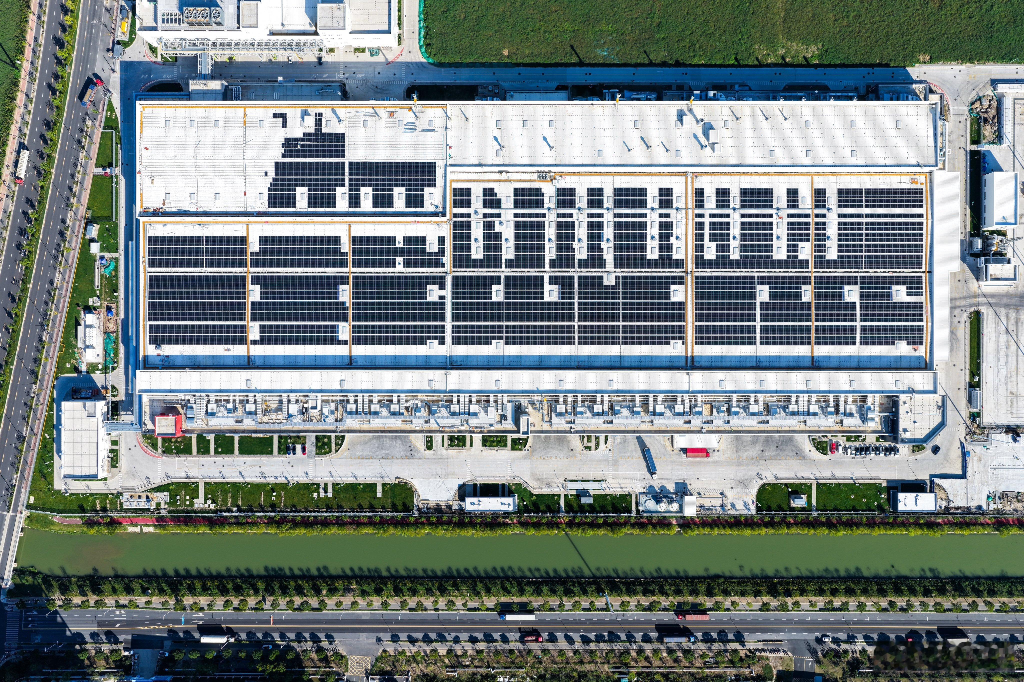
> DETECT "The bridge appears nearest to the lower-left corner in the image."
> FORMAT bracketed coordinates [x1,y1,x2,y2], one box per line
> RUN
[0,510,25,584]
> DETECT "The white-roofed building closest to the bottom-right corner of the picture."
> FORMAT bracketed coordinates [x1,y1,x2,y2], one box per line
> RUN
[888,489,937,512]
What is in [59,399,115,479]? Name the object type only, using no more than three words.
building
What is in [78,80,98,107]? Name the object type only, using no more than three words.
vehicle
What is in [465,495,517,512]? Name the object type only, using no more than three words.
building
